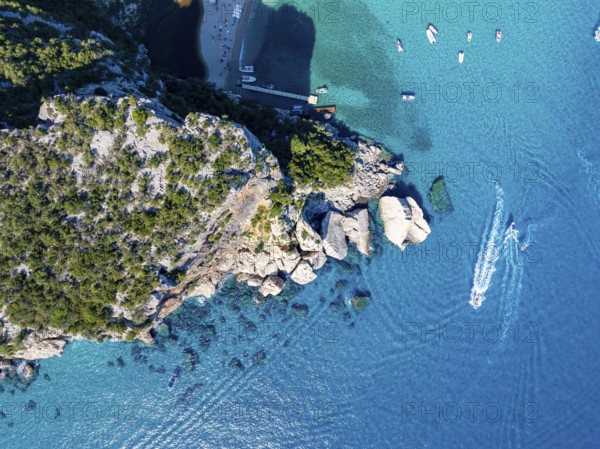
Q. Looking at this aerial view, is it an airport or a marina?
marina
